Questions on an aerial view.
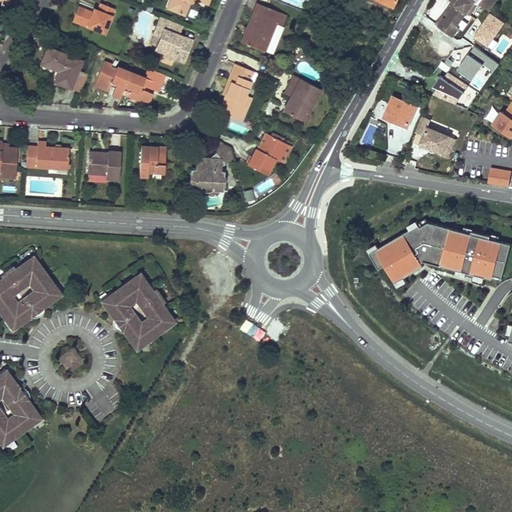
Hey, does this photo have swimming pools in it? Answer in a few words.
Yes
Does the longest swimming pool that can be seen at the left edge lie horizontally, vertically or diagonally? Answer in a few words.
horizontally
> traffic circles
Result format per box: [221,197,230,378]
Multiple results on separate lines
[236,214,323,308]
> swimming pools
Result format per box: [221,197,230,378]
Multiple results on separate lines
[1,184,18,194]
[226,121,252,136]
[25,176,64,198]
[132,10,156,46]
[360,122,379,144]
[254,175,278,200]
[490,36,512,58]
[296,60,321,82]
[206,193,225,210]
[282,0,304,8]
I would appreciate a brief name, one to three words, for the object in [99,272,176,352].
building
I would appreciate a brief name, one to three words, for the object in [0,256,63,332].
building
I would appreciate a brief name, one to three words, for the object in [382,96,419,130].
house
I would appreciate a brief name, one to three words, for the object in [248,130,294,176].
house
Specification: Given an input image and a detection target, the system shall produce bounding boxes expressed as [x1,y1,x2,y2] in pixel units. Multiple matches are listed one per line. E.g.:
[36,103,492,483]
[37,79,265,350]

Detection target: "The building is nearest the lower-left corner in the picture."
[0,370,43,450]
